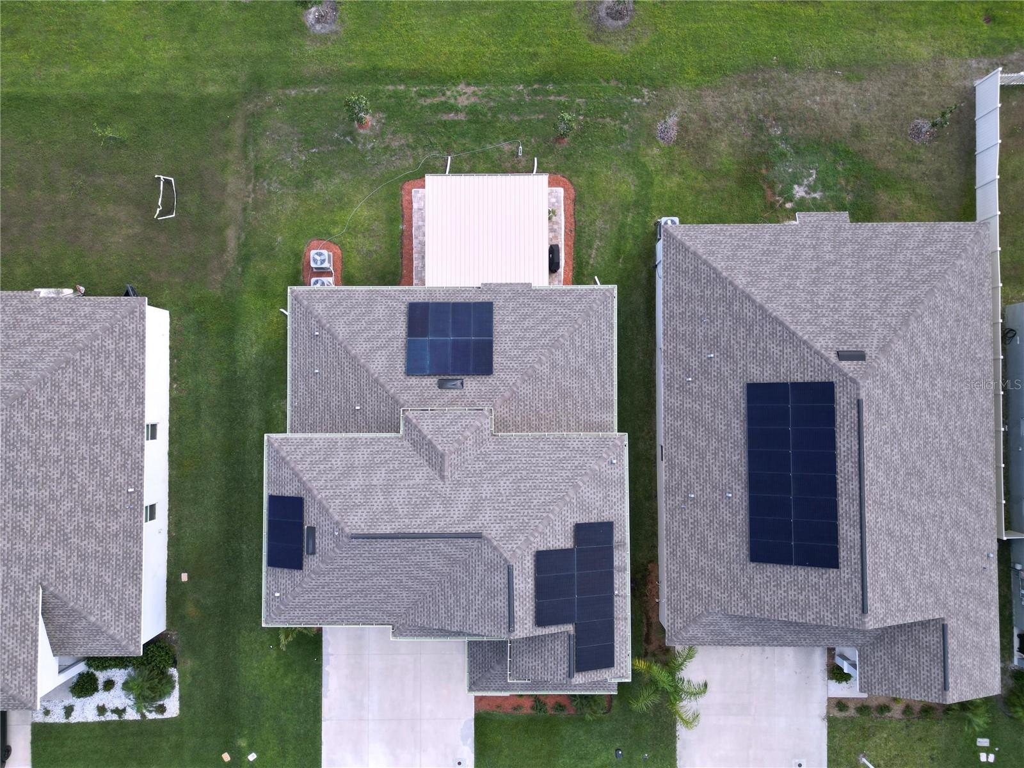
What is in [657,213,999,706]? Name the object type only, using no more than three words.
house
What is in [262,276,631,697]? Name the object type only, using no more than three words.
house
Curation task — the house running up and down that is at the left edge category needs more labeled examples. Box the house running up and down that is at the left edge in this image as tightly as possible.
[0,291,169,711]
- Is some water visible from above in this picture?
No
